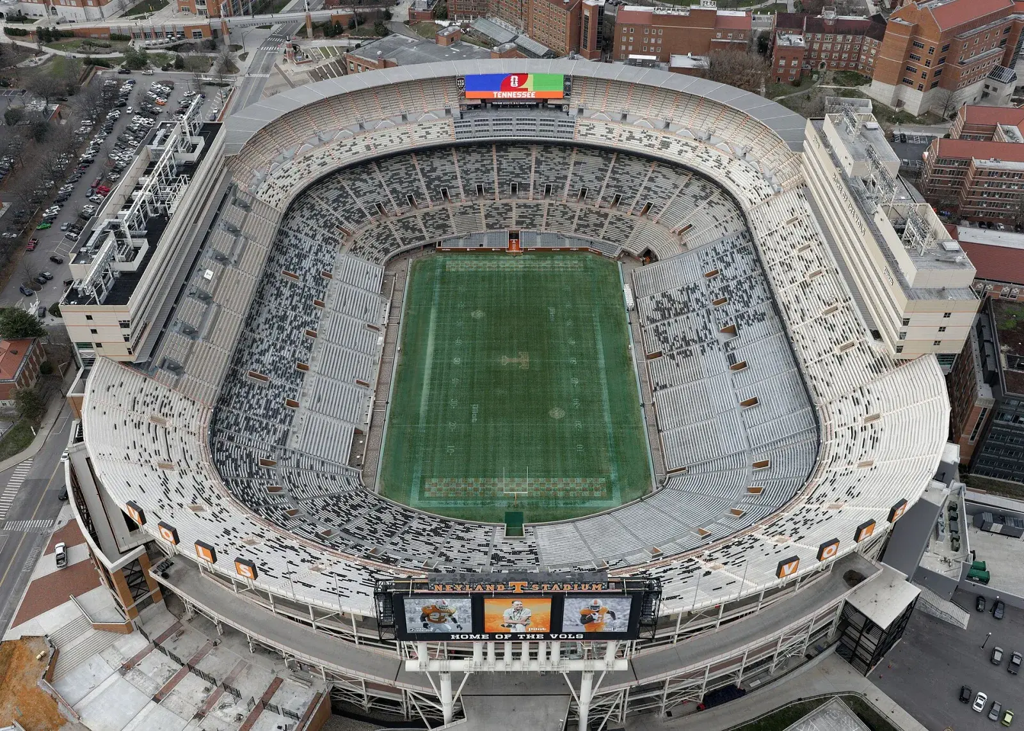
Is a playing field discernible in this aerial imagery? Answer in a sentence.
Yes, the photo shows a playing field.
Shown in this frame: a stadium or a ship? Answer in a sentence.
Looking from above, you can make out a stadium.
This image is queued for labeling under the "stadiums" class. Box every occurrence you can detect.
[81,57,949,658]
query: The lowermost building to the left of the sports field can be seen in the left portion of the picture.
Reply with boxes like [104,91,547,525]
[64,441,176,631]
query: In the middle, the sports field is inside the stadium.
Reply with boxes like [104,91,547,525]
[375,243,655,524]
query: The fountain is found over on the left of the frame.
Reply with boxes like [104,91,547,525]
[287,44,314,64]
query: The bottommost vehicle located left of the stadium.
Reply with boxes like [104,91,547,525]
[54,543,67,566]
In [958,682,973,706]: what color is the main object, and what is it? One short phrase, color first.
black car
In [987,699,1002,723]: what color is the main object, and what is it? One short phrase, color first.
gray car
